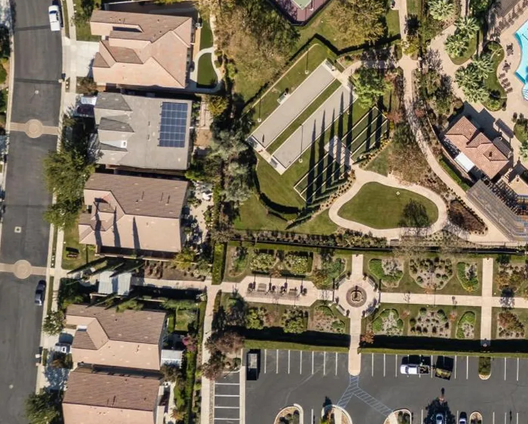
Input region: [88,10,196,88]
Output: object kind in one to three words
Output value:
house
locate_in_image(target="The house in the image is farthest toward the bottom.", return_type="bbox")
[59,369,166,424]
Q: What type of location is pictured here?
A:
residential area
